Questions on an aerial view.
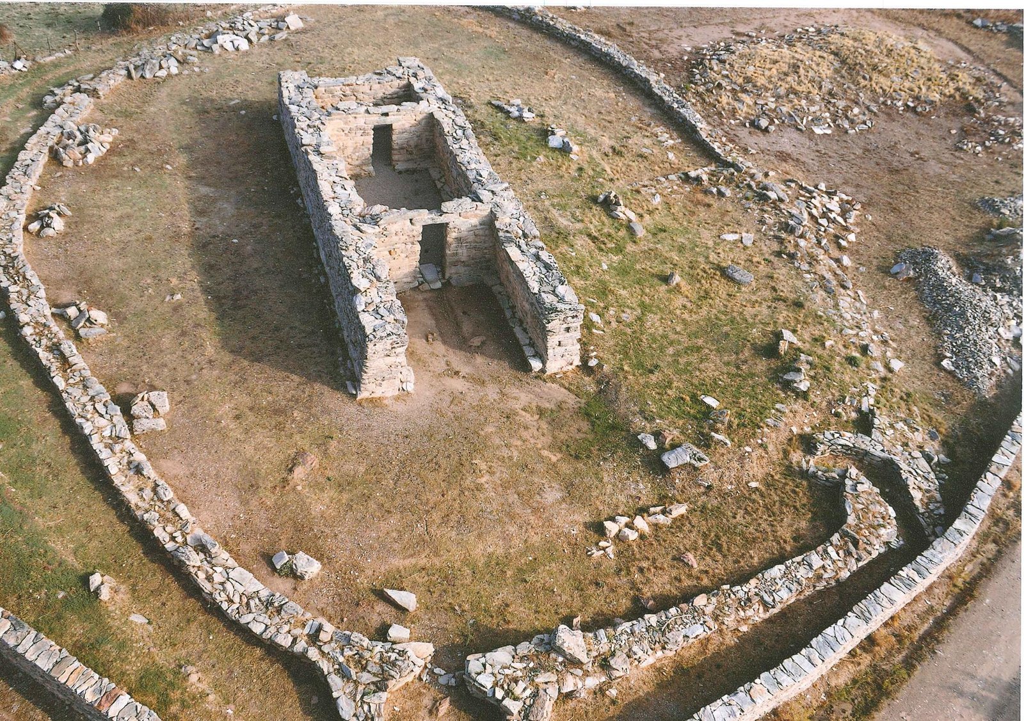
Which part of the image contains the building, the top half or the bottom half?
top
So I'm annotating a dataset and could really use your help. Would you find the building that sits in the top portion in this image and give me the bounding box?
[276,54,587,400]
